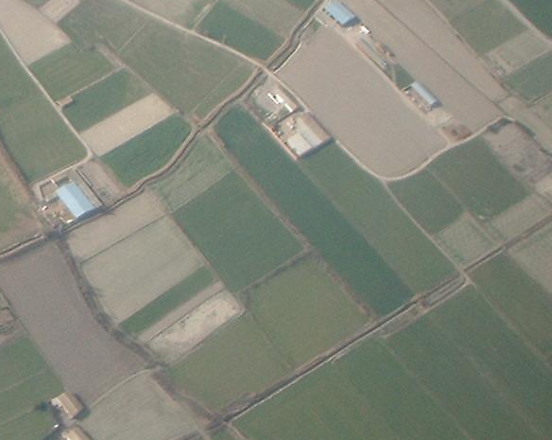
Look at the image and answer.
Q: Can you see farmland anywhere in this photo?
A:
Yes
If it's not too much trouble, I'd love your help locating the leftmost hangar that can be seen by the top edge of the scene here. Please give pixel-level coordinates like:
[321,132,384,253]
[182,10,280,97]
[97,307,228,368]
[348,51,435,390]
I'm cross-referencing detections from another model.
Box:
[323,0,355,27]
